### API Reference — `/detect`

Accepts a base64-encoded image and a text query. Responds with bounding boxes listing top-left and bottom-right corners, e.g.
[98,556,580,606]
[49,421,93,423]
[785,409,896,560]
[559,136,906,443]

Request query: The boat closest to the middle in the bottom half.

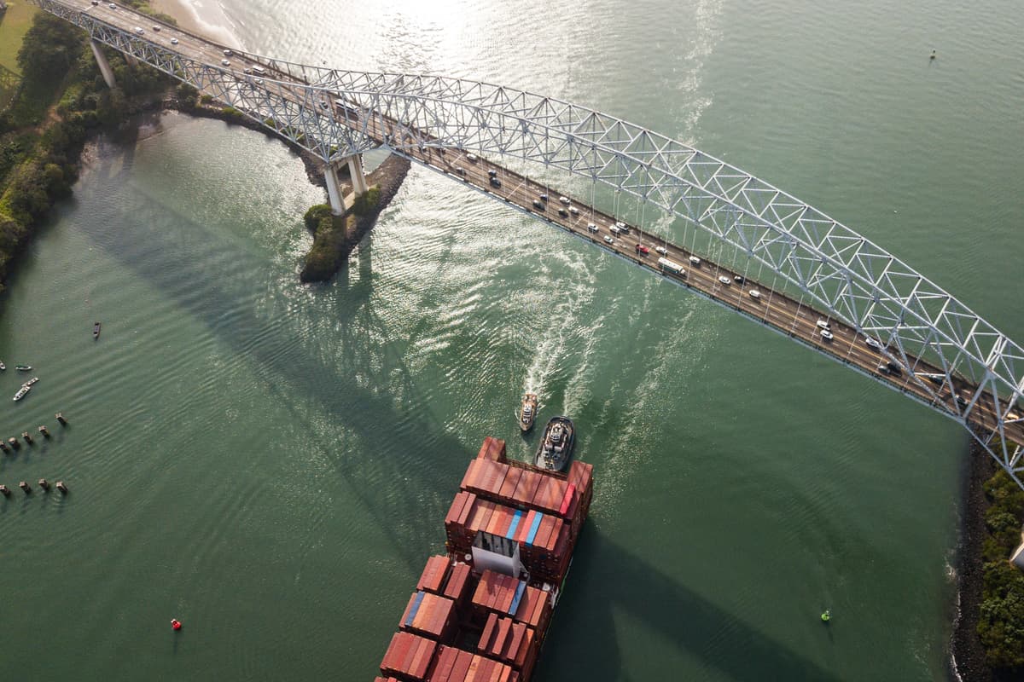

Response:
[519,390,539,431]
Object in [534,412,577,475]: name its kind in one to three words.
boat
